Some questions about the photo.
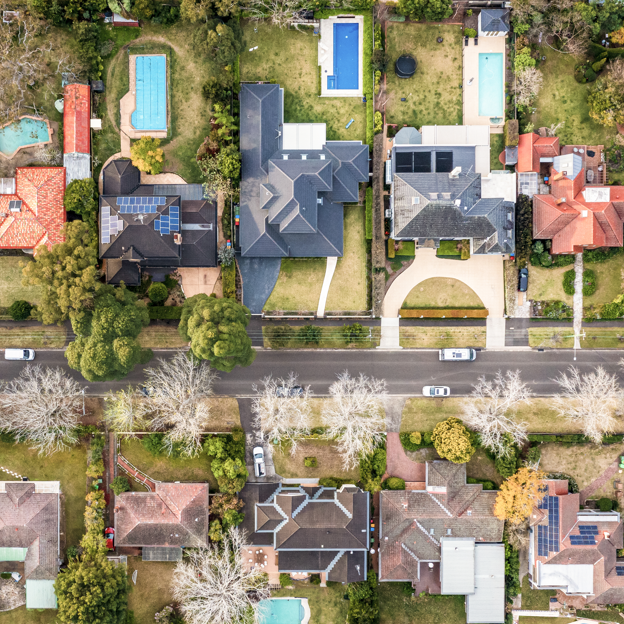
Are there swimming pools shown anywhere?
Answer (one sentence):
Yes, the photo shows a swimming pool.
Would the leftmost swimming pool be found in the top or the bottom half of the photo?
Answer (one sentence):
The leftmost swimming pool sits in the top half of the picture.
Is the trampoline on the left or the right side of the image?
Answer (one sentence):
The trampoline is on the right side of the image.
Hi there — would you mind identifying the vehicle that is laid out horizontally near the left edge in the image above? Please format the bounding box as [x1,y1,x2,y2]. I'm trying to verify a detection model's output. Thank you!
[3,348,35,360]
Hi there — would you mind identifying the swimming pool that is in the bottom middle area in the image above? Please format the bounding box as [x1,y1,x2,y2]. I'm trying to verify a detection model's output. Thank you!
[257,598,307,624]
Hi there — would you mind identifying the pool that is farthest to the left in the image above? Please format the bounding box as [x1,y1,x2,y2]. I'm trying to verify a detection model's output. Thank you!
[0,114,53,160]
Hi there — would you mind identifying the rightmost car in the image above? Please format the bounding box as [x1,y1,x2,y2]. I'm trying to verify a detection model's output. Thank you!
[516,268,530,292]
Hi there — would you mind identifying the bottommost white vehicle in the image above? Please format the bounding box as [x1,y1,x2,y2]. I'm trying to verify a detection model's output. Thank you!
[253,445,266,478]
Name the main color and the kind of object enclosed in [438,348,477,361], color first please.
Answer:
white vehicle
